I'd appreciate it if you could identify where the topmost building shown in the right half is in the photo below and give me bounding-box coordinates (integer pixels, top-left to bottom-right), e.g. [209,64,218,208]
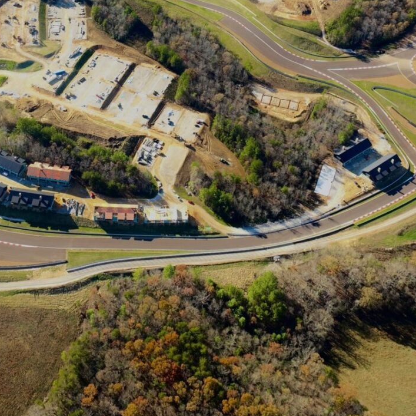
[329,137,373,170]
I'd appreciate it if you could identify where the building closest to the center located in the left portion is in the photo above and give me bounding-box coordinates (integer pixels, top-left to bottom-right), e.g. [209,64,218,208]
[143,207,188,228]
